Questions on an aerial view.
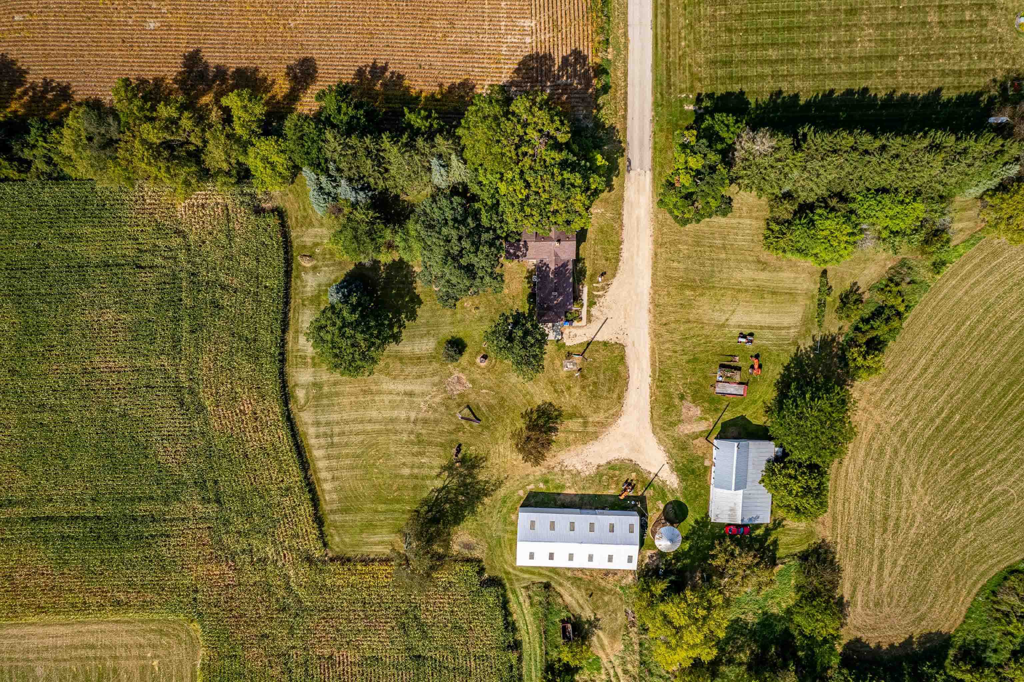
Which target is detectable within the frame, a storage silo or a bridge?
storage silo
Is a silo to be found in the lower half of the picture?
Yes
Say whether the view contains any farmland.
Yes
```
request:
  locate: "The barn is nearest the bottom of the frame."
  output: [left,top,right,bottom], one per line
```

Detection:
[516,508,640,570]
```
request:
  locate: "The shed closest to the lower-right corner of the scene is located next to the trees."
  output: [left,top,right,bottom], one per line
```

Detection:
[707,438,774,524]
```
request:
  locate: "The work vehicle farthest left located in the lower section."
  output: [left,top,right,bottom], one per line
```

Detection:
[618,474,636,503]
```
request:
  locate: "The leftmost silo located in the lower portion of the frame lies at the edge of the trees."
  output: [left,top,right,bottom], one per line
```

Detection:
[648,517,682,553]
